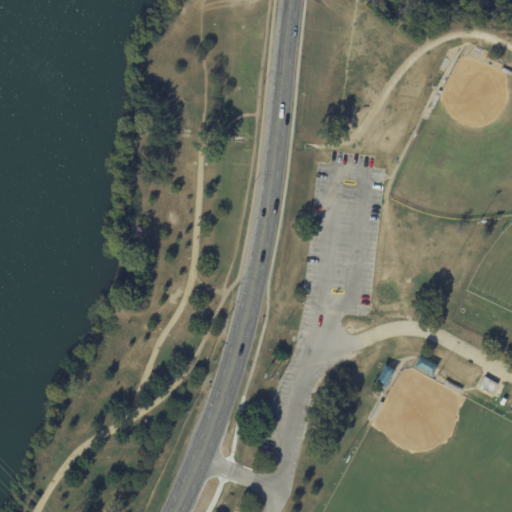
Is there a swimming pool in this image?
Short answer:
No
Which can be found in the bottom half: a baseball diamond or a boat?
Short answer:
baseball diamond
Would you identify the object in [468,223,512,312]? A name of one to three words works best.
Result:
sports field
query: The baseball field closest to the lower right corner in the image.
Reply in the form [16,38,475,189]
[325,366,512,512]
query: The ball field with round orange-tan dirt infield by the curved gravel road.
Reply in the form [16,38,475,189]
[392,56,512,218]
